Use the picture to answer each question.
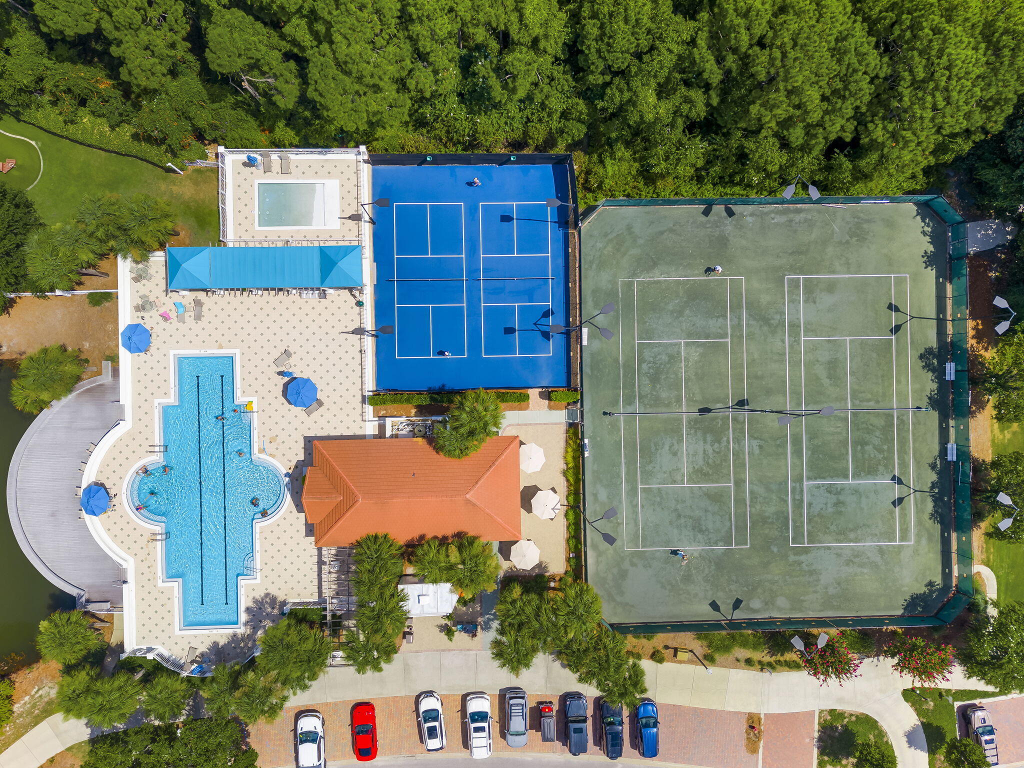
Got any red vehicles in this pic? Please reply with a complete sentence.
Yes, looking at the shot, I can spot a red vehicle.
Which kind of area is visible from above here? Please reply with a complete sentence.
This image shows a sports ground.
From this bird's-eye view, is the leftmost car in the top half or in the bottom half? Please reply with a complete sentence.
Seen from above, the leftmost car lies in the bottom half of the view.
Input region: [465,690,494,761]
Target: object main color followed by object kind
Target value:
white car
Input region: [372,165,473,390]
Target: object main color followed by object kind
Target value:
blue sports court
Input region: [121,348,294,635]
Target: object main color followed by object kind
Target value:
blue swimming pool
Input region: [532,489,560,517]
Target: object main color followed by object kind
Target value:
white umbrella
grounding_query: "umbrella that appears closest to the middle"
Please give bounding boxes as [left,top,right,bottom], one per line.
[521,444,545,471]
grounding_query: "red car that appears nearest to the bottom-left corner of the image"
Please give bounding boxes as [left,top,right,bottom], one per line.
[350,700,379,762]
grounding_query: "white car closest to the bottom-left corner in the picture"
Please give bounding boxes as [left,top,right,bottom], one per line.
[295,709,325,768]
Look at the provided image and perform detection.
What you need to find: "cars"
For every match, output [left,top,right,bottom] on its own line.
[465,690,494,761]
[503,686,530,747]
[564,691,591,757]
[595,694,625,761]
[416,690,448,755]
[350,700,379,762]
[960,703,1008,768]
[633,696,661,759]
[295,709,325,768]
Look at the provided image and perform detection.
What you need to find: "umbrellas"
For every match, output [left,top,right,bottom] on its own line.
[287,376,319,407]
[123,324,155,353]
[532,489,560,517]
[521,444,545,471]
[286,370,299,378]
[510,539,540,569]
[196,657,213,672]
[83,485,116,514]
